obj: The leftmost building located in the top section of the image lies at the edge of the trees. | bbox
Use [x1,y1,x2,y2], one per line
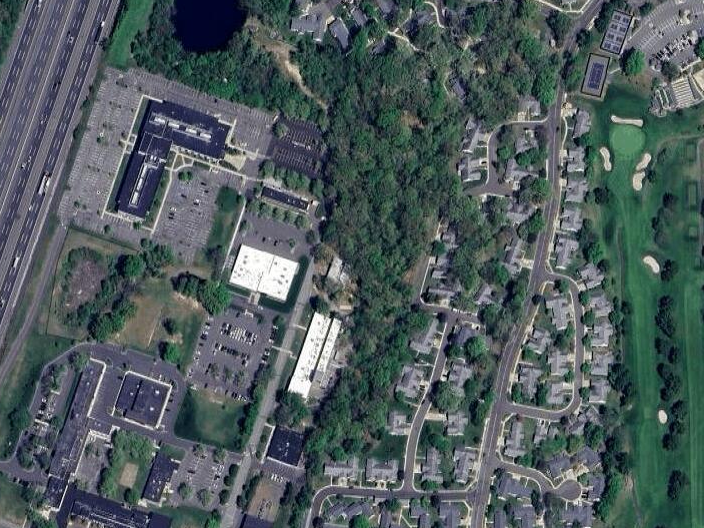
[117,98,231,223]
